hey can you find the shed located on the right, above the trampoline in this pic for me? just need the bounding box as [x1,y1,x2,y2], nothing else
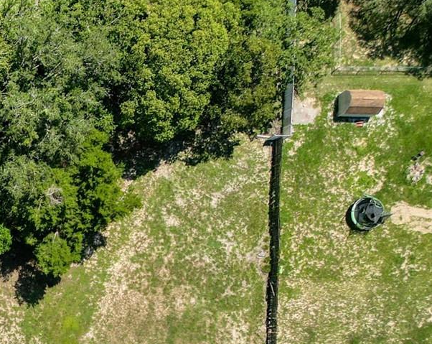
[337,90,389,117]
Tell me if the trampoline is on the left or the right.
right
